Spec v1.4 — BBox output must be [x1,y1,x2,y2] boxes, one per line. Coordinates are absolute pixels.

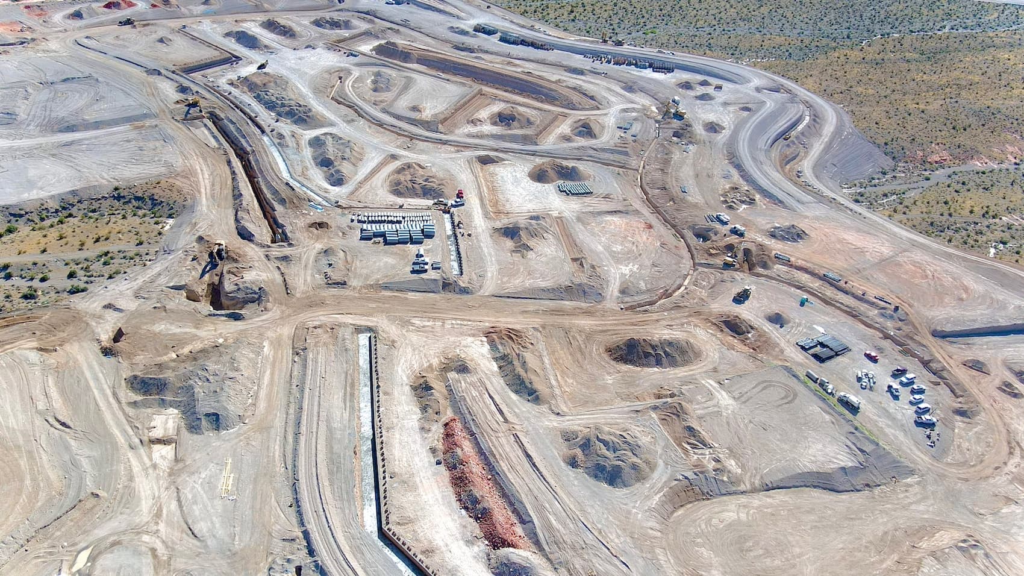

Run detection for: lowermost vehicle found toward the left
[209,239,226,268]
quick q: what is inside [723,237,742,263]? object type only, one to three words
work vehicle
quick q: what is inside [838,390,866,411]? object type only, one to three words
truck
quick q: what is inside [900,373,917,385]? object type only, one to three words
vehicle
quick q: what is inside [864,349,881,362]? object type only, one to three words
vehicle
